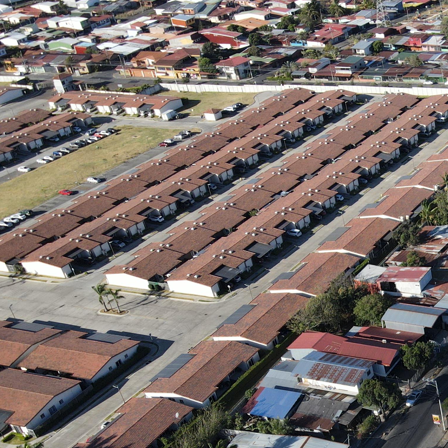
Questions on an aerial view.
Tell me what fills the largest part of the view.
buildings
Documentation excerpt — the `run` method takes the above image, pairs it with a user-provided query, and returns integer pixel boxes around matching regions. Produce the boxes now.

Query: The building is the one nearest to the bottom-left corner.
[0,367,82,435]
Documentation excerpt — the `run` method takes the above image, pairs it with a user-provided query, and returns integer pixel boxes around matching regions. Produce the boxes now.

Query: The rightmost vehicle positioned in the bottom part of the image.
[405,388,423,403]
